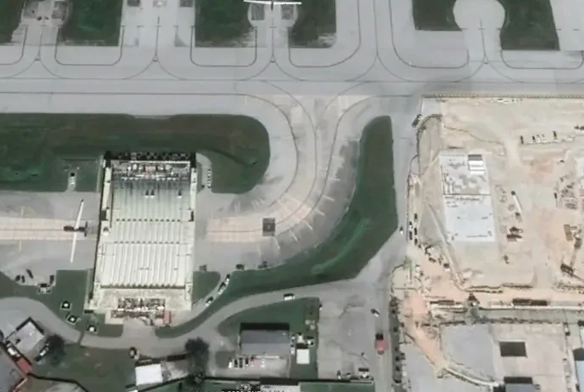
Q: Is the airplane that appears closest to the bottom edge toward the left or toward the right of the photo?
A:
left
